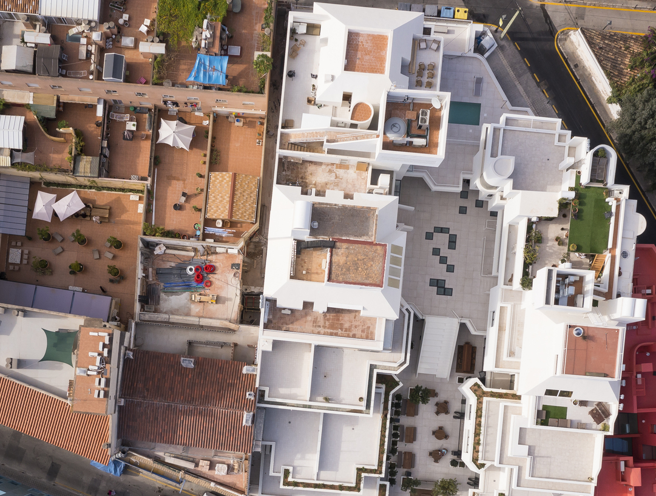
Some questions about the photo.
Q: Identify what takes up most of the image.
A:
buildings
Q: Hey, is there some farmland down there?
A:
No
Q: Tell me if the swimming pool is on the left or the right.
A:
right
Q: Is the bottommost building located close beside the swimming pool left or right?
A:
right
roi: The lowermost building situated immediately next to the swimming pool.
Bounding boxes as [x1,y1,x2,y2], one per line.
[470,113,651,402]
